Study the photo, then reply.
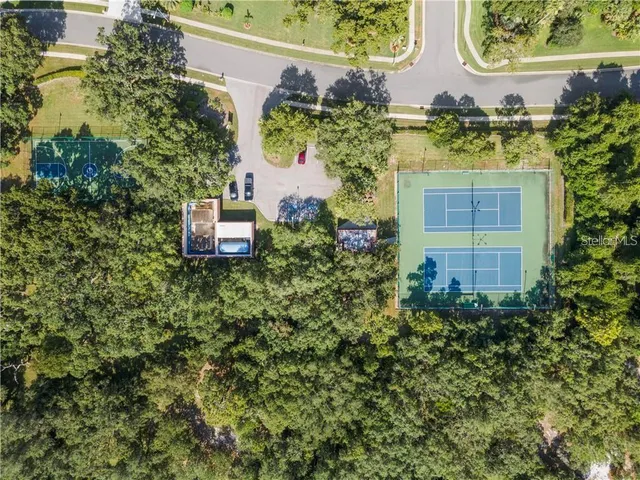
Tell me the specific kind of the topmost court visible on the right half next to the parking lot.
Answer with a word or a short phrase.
tennis court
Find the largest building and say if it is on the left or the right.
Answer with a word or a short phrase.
left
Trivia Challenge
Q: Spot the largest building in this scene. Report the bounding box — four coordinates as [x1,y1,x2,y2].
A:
[181,201,252,256]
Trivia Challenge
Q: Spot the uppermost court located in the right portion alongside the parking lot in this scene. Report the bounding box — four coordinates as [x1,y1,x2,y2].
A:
[400,174,549,239]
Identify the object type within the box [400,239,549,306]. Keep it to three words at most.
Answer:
tennis court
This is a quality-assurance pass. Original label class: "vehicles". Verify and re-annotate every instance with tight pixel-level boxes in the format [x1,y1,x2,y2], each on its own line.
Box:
[244,174,253,199]
[298,148,306,165]
[229,182,238,201]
